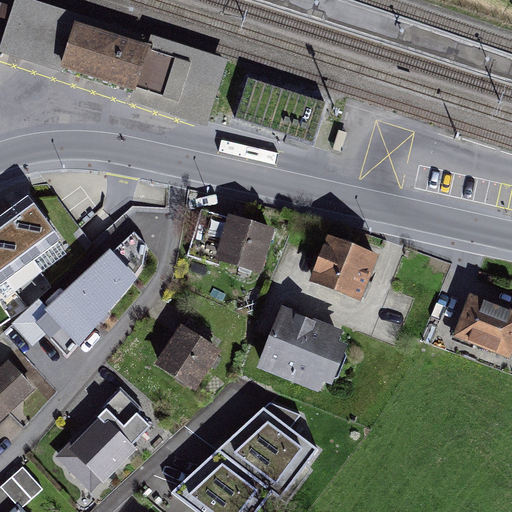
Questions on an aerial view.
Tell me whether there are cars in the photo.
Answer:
Yes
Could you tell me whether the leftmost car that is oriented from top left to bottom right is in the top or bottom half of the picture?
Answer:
bottom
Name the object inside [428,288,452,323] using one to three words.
truck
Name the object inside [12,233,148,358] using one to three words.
house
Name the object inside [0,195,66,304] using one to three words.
building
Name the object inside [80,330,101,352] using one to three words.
car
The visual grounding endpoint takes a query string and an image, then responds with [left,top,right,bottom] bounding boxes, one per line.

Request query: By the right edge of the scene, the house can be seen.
[452,292,512,360]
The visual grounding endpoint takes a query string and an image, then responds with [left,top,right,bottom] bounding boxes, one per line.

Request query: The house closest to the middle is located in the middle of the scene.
[216,213,275,272]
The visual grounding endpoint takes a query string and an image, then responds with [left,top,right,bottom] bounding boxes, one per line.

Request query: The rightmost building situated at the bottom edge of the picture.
[171,408,317,512]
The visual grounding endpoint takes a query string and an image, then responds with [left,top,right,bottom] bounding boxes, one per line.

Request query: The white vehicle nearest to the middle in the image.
[192,194,219,208]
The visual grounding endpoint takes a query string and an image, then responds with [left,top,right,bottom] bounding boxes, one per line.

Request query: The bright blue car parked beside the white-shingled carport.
[10,331,30,354]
